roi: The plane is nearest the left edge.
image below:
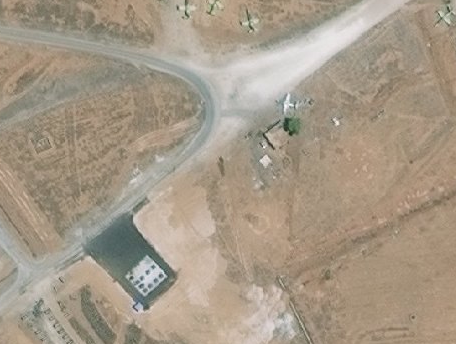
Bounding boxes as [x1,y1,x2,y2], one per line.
[177,0,196,17]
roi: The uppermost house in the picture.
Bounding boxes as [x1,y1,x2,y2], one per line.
[265,124,289,149]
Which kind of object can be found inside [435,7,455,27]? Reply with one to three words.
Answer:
airplane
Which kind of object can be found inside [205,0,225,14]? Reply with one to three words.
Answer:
airplane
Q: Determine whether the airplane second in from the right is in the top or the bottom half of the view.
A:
top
